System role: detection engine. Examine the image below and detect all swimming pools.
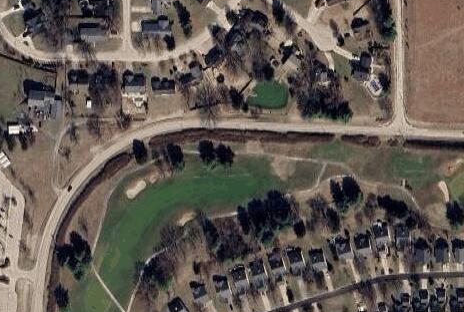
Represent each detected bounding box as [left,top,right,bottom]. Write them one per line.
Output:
[368,77,385,95]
